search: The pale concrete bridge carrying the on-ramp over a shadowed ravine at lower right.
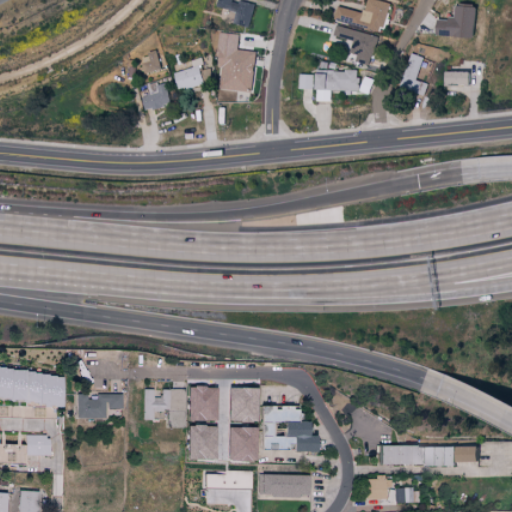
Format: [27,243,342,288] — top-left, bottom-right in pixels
[422,370,512,435]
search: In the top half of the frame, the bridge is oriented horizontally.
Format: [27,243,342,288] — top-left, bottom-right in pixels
[460,155,512,185]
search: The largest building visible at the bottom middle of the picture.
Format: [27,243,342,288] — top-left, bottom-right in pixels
[264,406,320,452]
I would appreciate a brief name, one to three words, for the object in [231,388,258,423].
building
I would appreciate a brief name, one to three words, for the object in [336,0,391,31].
house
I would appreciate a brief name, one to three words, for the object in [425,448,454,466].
shed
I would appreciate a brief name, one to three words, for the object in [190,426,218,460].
building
